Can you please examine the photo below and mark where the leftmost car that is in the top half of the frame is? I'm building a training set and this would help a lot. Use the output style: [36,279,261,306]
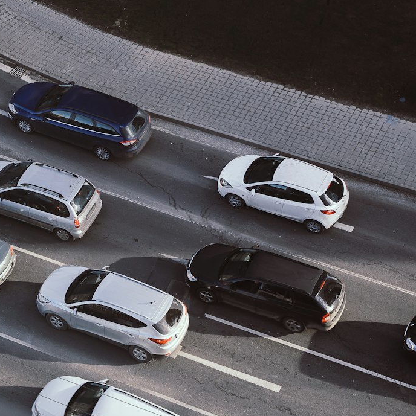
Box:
[9,76,155,161]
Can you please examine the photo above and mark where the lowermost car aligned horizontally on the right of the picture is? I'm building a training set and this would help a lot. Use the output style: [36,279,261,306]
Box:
[189,240,353,333]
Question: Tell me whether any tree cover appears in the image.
No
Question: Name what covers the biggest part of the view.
paved ground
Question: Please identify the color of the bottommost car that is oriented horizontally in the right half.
black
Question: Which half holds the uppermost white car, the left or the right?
right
